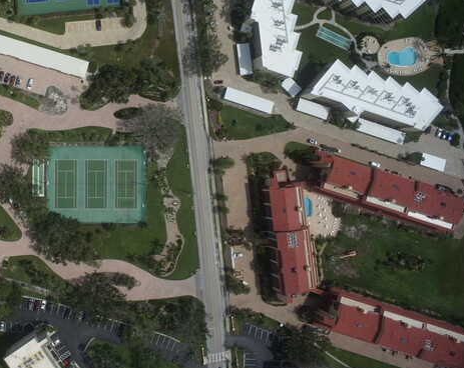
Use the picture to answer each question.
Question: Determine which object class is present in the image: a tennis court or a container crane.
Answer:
tennis court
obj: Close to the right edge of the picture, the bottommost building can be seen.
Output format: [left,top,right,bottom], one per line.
[307,286,464,368]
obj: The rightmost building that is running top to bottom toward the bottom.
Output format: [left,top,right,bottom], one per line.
[257,168,319,302]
